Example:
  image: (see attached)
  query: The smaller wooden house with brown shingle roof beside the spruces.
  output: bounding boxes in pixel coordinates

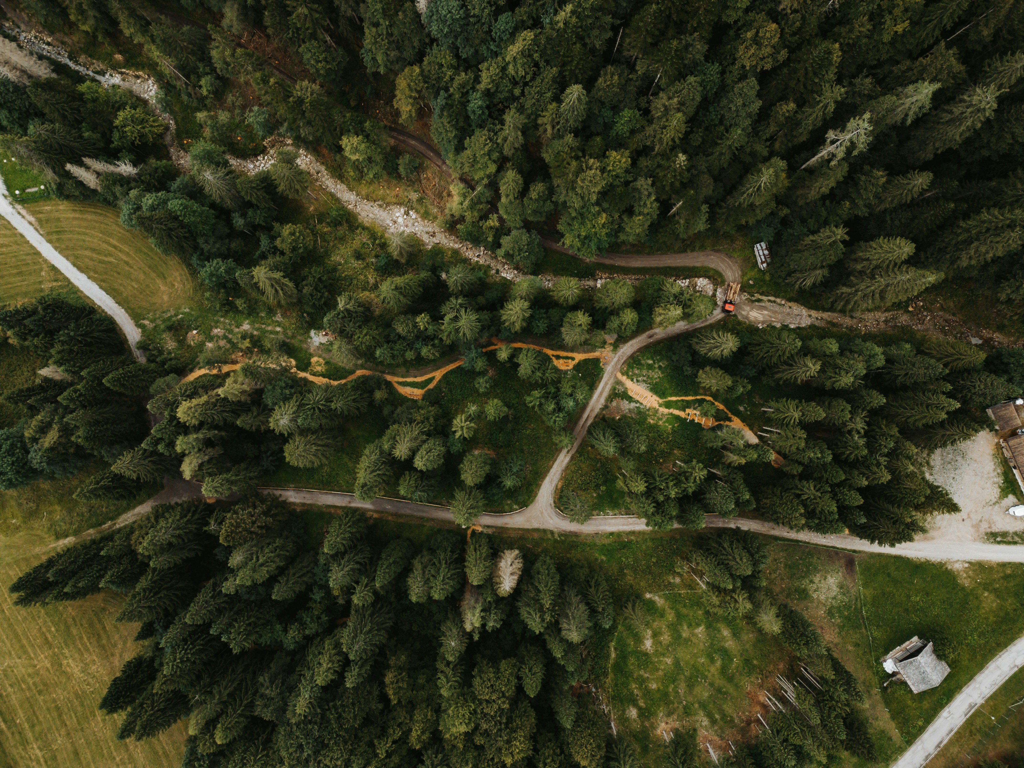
[984,401,1024,431]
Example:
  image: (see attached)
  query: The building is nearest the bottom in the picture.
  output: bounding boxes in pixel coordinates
[880,635,951,694]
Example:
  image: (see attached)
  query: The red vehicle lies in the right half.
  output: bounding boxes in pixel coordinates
[723,285,741,315]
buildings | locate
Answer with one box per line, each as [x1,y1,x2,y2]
[984,401,1024,431]
[880,635,951,694]
[1000,432,1024,495]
